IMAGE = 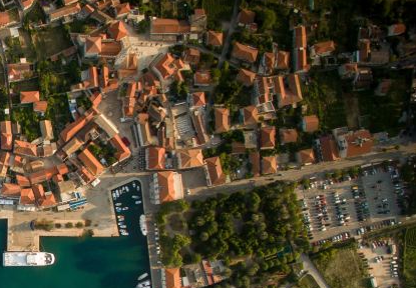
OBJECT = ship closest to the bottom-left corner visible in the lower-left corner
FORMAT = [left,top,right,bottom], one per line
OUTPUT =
[1,252,55,265]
